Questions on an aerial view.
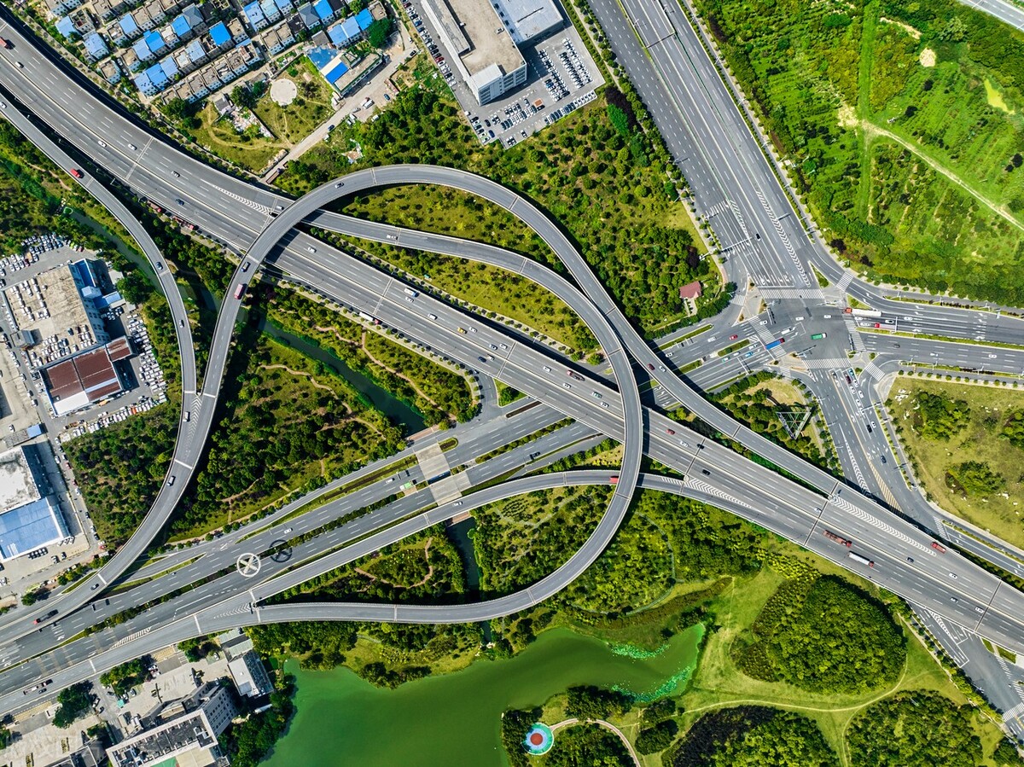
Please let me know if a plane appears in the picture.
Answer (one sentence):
No, I find no plane anywhere in the image.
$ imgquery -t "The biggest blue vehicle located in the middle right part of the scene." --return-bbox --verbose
[765,337,787,349]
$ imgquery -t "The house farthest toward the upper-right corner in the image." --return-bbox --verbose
[678,281,702,299]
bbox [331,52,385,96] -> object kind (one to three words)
building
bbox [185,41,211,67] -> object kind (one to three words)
house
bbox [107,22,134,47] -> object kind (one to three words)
house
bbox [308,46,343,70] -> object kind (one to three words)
building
